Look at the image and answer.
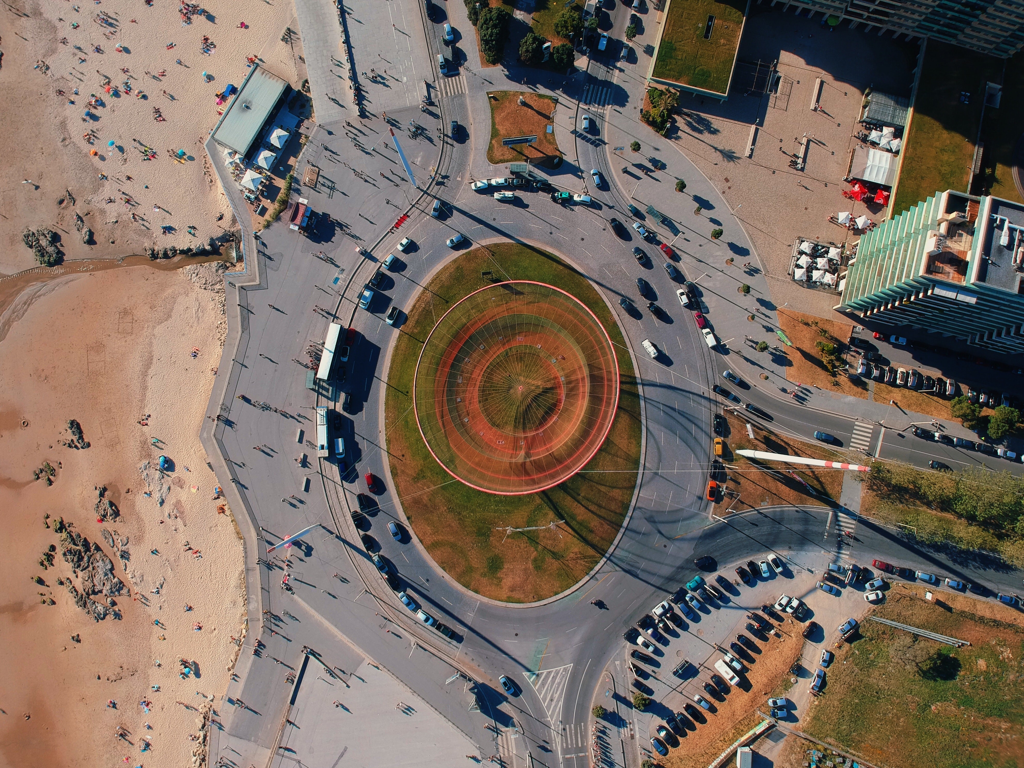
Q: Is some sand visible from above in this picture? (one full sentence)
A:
Yes, sand can be seen from above here.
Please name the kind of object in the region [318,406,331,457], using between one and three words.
train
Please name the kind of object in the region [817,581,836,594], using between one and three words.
vehicle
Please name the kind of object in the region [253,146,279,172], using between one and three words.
umbrella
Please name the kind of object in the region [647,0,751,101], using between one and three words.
building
